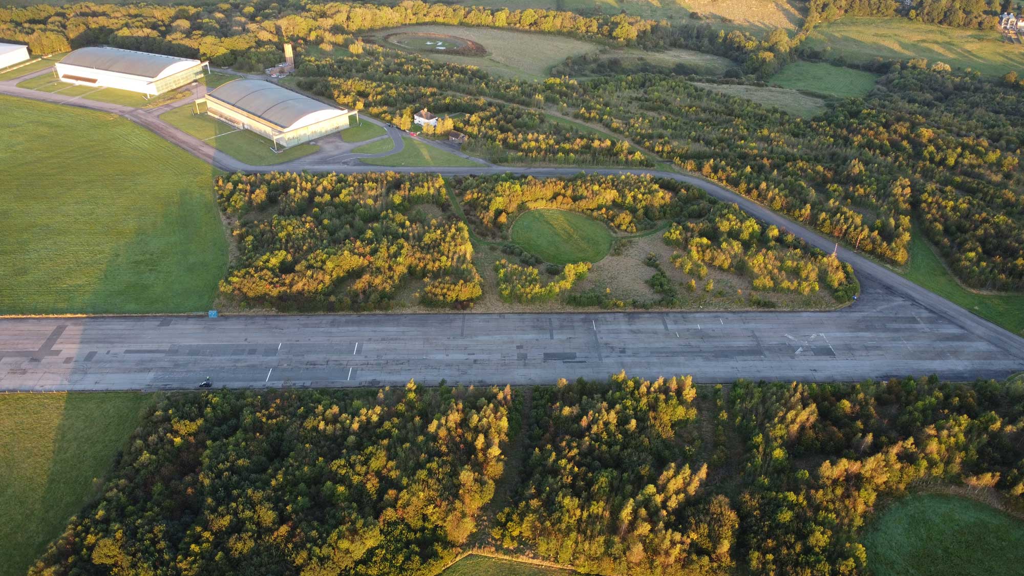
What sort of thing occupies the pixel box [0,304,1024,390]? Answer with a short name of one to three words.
runway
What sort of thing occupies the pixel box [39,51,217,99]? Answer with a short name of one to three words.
hangar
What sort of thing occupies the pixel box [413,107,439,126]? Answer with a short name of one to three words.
house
